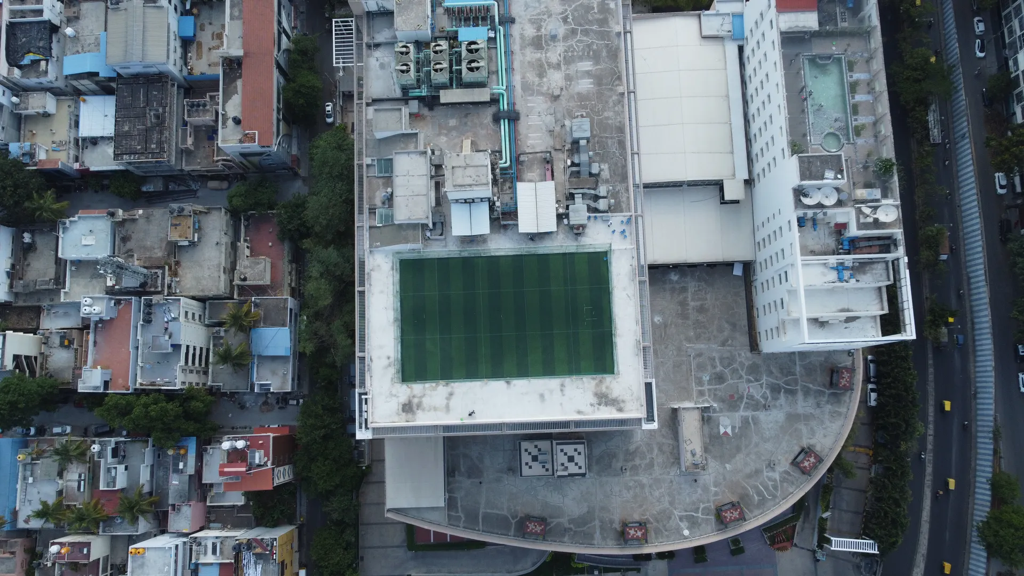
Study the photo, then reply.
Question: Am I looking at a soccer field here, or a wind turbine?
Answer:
soccer field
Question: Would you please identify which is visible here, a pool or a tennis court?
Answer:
pool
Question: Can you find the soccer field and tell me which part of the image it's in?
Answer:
center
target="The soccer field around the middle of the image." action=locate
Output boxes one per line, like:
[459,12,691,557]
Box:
[400,251,615,382]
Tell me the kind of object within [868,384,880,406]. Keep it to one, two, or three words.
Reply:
vehicle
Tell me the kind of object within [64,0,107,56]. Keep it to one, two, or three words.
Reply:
house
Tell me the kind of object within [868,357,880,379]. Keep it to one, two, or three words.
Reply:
vehicle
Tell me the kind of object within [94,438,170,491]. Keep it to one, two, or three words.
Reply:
house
